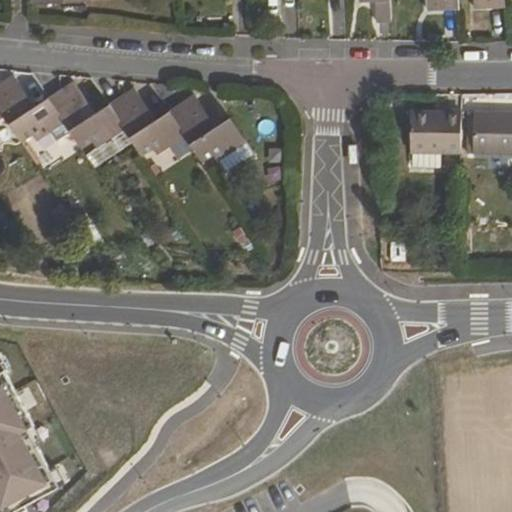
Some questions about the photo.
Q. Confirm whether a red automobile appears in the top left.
No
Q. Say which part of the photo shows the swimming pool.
top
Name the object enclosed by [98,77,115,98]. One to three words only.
car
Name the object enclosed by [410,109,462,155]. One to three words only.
house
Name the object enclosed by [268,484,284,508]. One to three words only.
car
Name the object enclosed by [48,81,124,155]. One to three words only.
house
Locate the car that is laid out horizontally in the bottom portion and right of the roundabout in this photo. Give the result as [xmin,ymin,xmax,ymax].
[436,330,460,342]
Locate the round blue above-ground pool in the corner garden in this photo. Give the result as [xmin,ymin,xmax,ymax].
[256,118,276,140]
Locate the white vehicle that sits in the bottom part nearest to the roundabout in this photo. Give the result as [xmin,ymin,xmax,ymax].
[276,342,289,367]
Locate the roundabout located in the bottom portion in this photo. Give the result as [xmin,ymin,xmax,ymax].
[292,306,372,387]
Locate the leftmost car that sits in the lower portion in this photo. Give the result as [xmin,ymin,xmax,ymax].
[204,323,224,336]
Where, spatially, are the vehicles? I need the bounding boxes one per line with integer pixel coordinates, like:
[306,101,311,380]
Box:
[114,76,126,95]
[204,323,224,336]
[196,46,216,56]
[286,0,294,8]
[231,500,244,512]
[315,291,338,302]
[118,40,142,50]
[170,43,192,54]
[244,496,260,512]
[276,342,289,367]
[436,330,460,342]
[64,4,85,14]
[98,77,115,98]
[350,48,370,58]
[396,46,418,56]
[268,484,284,508]
[147,42,168,52]
[492,12,504,35]
[464,50,488,62]
[446,10,456,30]
[93,38,114,48]
[278,480,294,500]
